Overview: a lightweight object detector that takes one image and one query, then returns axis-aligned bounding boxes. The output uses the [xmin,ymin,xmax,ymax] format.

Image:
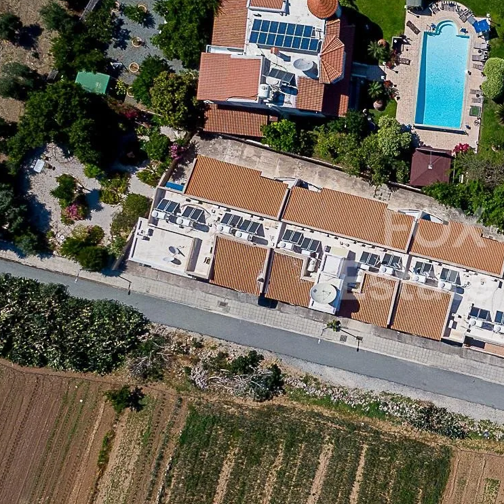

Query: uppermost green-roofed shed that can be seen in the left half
[75,73,116,95]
